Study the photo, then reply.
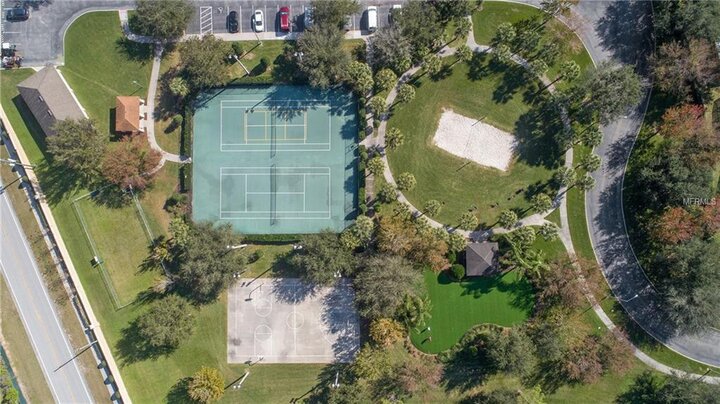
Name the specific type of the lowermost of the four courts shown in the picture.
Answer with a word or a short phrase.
basketball court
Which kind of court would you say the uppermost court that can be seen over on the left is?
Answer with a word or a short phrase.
tennis court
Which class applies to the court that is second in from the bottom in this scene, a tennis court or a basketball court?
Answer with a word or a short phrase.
tennis court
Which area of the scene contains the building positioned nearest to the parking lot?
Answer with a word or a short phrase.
top left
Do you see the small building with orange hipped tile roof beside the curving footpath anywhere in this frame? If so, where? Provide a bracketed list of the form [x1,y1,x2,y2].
[116,96,150,132]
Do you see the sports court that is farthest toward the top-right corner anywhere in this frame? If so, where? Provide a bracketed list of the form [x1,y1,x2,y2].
[434,109,518,171]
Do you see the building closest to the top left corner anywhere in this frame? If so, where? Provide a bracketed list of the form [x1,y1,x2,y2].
[17,66,86,145]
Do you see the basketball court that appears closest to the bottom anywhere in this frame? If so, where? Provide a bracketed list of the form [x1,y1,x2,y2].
[228,278,361,363]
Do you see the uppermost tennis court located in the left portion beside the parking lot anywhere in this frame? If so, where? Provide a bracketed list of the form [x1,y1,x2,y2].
[211,92,339,159]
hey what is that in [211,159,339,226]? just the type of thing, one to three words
tennis court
